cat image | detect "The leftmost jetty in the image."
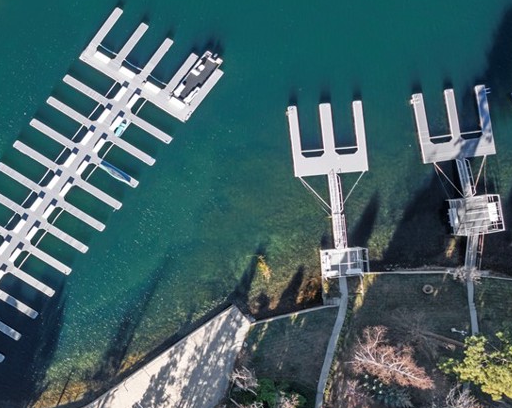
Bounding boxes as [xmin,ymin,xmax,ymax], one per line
[0,9,222,362]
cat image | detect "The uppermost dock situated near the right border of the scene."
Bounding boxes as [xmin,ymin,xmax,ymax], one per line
[411,85,496,198]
